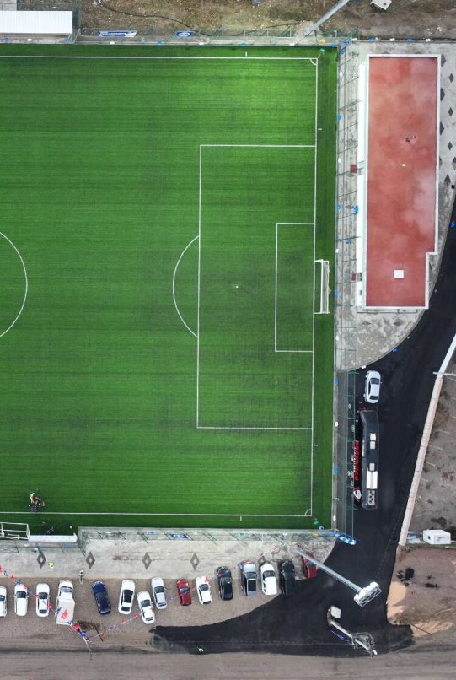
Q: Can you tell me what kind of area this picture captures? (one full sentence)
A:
The area seen from above is a sports ground.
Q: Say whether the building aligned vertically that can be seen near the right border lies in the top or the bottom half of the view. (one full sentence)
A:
The top half of the photo is where the building aligned vertically that can be seen near the right border is.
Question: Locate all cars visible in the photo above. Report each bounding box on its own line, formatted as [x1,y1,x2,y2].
[216,566,233,600]
[91,581,112,615]
[36,583,51,617]
[363,371,381,403]
[241,561,259,597]
[0,585,8,617]
[195,575,211,605]
[259,561,277,594]
[176,578,191,606]
[300,552,317,579]
[279,560,298,596]
[135,590,154,624]
[118,579,135,615]
[150,577,166,609]
[13,584,30,616]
